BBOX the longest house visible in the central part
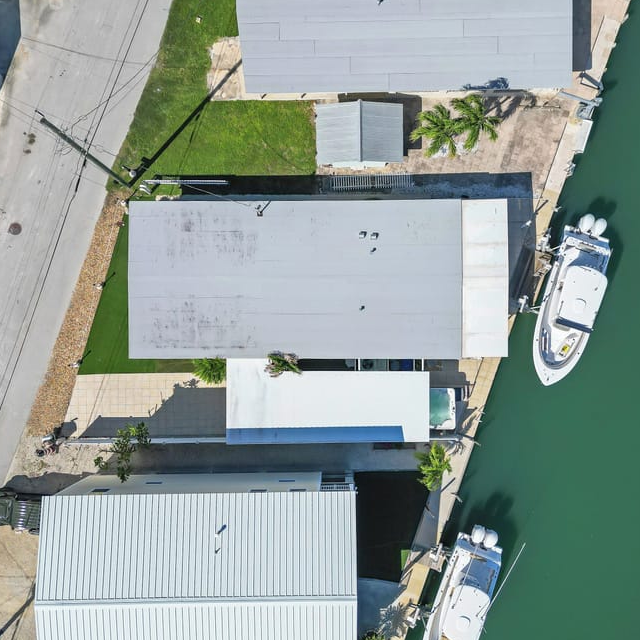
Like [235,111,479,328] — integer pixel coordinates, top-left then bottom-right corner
[127,198,508,359]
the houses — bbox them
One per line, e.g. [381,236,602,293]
[127,198,508,359]
[34,475,363,640]
[236,0,576,98]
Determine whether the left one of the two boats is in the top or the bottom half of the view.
bottom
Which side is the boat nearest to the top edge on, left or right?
right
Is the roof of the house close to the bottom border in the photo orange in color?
No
